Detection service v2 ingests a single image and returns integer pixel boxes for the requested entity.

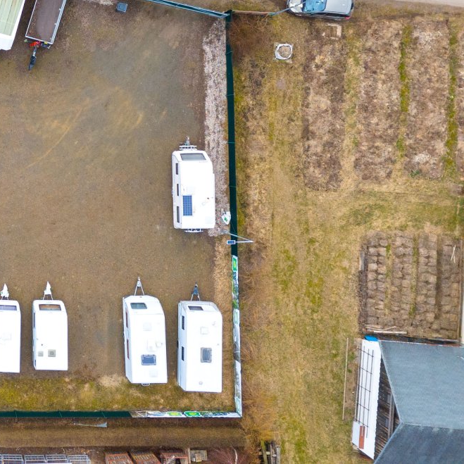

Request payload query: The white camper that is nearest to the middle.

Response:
[168,137,217,231]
